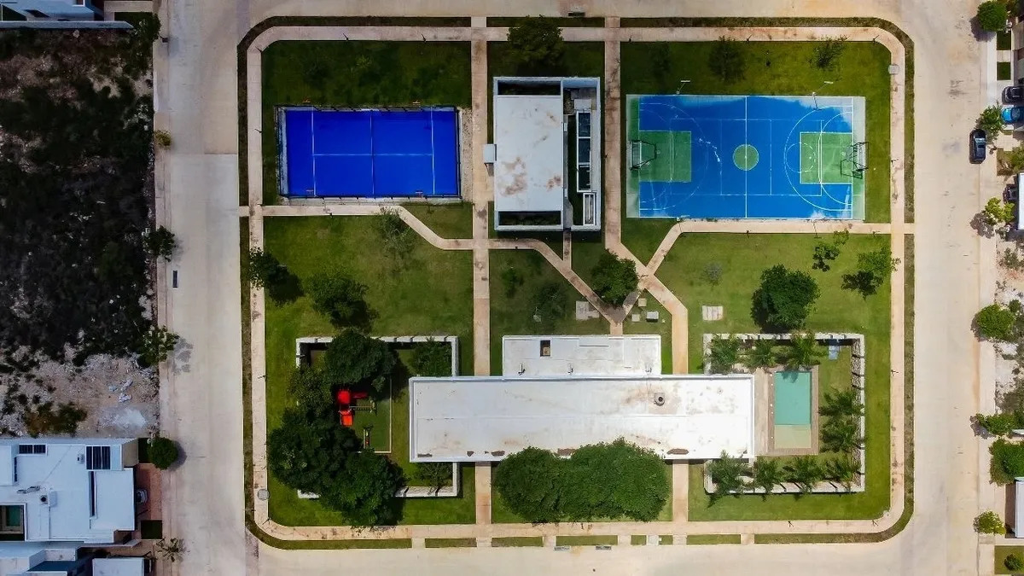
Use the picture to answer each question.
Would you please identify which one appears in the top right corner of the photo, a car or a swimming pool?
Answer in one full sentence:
Looking in the top right corner of the photo, you will find a car.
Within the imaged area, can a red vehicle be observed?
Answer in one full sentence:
No, the picture doesn't show any red vehicle.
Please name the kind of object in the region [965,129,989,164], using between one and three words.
car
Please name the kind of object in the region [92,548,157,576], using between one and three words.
building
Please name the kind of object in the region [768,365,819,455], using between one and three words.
swimming pool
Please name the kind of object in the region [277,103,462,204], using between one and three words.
sports court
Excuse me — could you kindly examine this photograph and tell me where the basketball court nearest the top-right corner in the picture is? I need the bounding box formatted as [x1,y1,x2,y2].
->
[627,94,865,219]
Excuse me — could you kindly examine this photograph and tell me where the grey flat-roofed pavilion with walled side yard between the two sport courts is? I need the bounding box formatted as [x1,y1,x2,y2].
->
[483,77,600,232]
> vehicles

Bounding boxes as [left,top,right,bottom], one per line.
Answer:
[1003,86,1019,105]
[1003,105,1019,123]
[965,129,989,164]
[992,185,1016,202]
[136,488,146,505]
